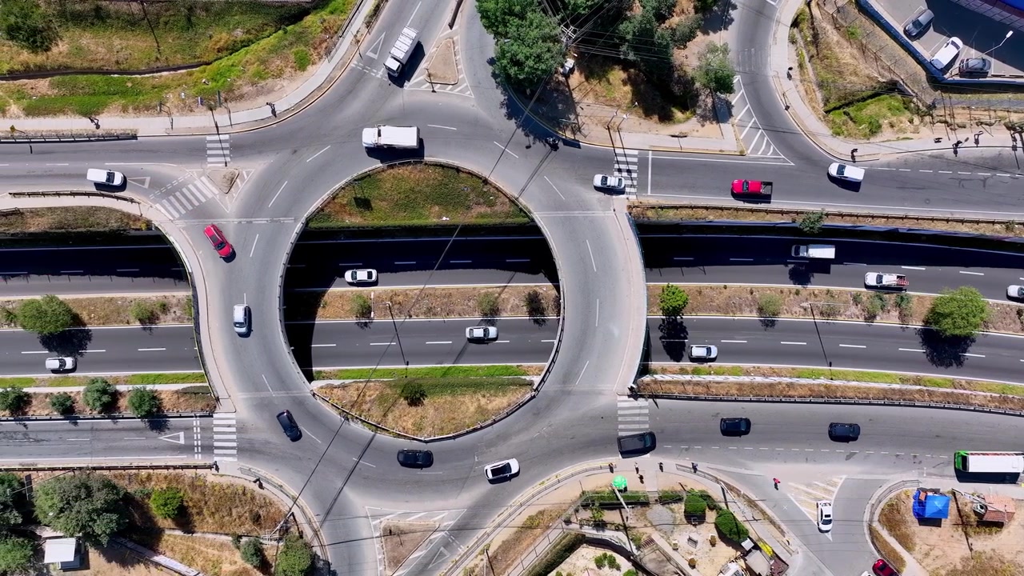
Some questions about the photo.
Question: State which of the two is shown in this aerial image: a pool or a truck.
truck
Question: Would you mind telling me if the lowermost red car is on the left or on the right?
right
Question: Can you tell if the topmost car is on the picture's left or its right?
right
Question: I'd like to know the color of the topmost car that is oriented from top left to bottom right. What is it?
red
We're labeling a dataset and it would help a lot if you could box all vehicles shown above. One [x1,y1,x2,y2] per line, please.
[485,459,520,479]
[593,175,625,191]
[714,559,751,576]
[898,8,935,39]
[616,432,655,452]
[234,305,251,334]
[687,345,716,360]
[824,163,864,182]
[204,224,235,261]
[814,498,832,531]
[825,424,858,440]
[47,357,80,372]
[545,140,559,147]
[953,58,988,76]
[384,24,423,88]
[398,449,433,466]
[923,37,959,76]
[718,418,749,434]
[365,127,422,151]
[787,243,836,261]
[730,180,771,197]
[947,450,1024,474]
[868,555,903,576]
[277,408,302,441]
[347,269,378,284]
[466,326,498,341]
[863,272,903,288]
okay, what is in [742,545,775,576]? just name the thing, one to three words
shed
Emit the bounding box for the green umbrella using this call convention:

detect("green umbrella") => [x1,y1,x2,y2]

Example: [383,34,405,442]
[612,475,627,490]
